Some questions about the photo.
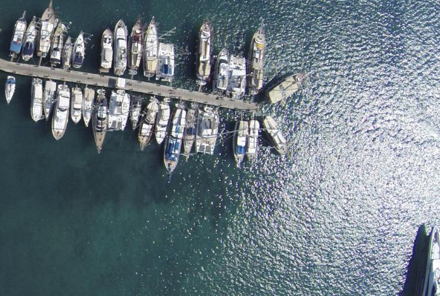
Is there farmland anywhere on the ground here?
No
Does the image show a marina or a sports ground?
marina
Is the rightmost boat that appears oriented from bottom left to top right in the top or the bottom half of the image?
top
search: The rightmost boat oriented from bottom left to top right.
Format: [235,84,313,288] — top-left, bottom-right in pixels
[264,74,305,106]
